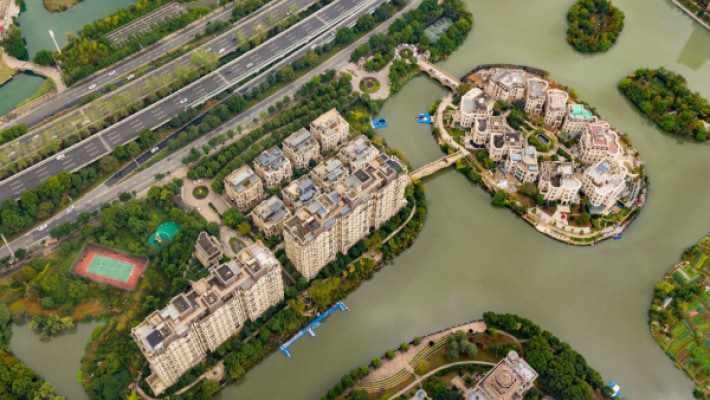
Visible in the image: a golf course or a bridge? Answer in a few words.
bridge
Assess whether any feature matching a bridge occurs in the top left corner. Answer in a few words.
Yes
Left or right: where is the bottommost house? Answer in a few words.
right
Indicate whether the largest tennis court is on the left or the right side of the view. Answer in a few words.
left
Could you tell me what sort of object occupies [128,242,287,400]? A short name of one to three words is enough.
building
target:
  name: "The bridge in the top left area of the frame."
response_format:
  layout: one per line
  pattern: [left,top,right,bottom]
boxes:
[0,51,66,94]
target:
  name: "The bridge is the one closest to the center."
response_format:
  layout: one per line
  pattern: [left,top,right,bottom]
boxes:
[406,147,469,181]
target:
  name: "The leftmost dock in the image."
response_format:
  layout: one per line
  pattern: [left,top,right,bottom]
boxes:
[281,302,347,358]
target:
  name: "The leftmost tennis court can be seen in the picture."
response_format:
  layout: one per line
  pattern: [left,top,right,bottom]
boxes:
[71,241,147,289]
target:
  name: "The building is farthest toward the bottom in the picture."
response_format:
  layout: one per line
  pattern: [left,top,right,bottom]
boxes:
[476,358,530,400]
